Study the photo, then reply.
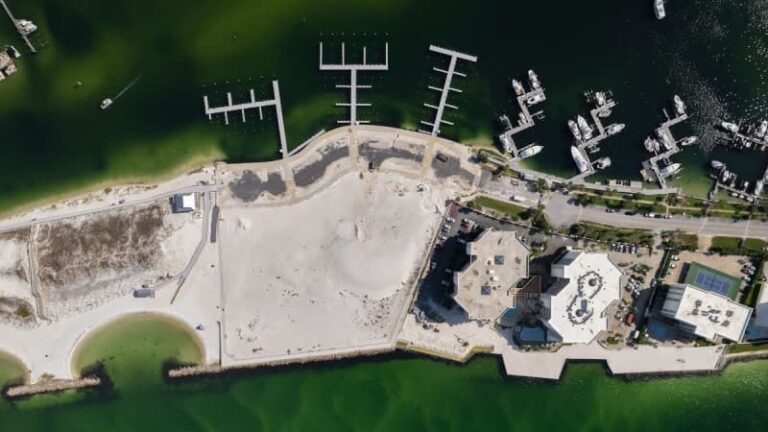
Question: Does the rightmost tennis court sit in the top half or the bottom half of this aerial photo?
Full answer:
The rightmost tennis court sits in the bottom half of the picture.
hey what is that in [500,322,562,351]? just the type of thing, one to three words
swimming pool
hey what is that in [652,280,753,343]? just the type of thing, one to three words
building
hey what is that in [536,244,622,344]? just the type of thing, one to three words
building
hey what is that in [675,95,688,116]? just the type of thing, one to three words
boat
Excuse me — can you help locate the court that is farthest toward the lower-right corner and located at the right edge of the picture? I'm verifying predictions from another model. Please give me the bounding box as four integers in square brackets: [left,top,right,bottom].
[685,261,744,302]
